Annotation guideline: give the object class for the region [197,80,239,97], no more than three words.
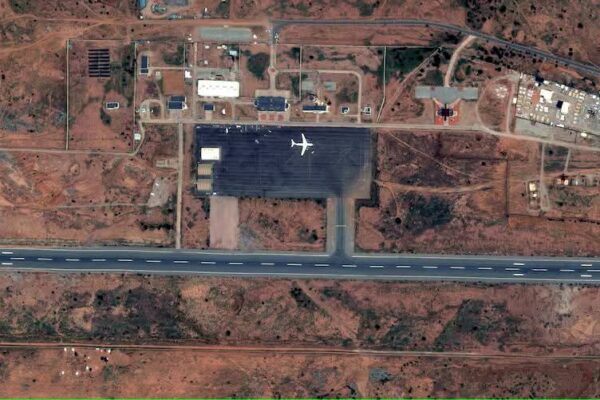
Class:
building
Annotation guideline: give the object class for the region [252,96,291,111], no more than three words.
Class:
building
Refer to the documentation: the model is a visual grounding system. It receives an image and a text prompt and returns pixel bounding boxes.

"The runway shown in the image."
[0,245,600,284]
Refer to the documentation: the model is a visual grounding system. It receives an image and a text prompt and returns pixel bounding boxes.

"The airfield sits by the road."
[0,126,600,284]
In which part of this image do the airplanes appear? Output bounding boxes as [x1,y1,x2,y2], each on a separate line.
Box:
[291,134,313,155]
